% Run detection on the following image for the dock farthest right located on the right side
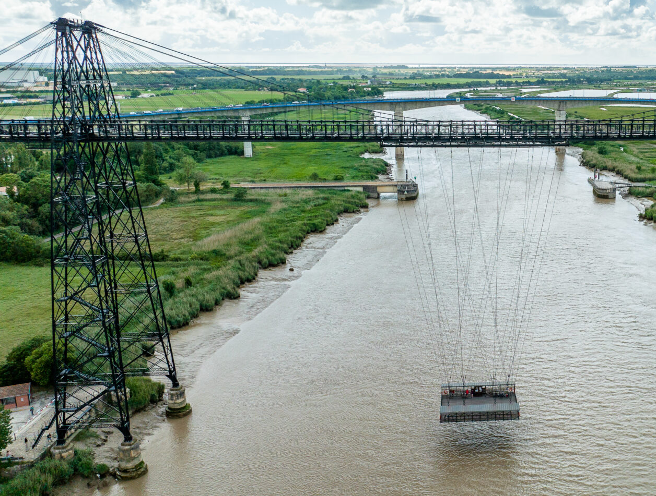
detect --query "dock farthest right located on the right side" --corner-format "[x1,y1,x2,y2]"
[587,174,616,202]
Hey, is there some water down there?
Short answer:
Yes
